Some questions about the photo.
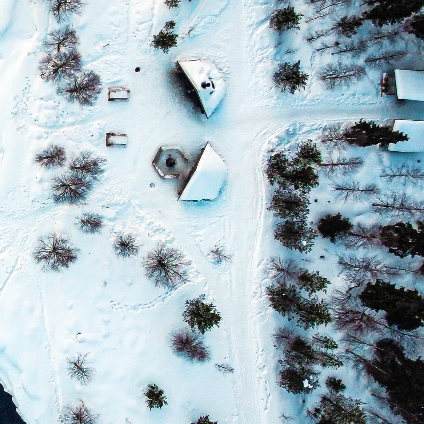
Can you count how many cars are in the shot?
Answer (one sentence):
The photo contains no cars.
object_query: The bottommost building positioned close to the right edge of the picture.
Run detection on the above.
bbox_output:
[385,119,424,153]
